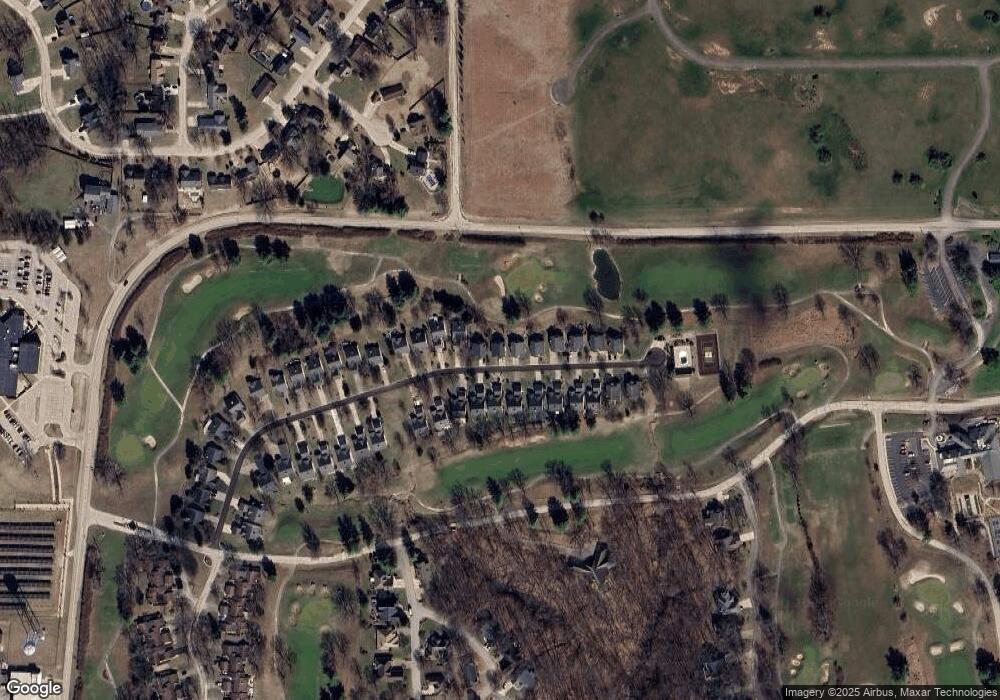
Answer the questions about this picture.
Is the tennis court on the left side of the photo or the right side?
right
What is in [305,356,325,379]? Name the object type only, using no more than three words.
house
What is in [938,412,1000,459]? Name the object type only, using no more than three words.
building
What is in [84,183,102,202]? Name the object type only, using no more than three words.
house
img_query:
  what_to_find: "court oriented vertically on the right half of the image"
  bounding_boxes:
[696,334,720,376]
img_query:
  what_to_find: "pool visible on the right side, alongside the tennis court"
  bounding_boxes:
[674,345,692,367]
